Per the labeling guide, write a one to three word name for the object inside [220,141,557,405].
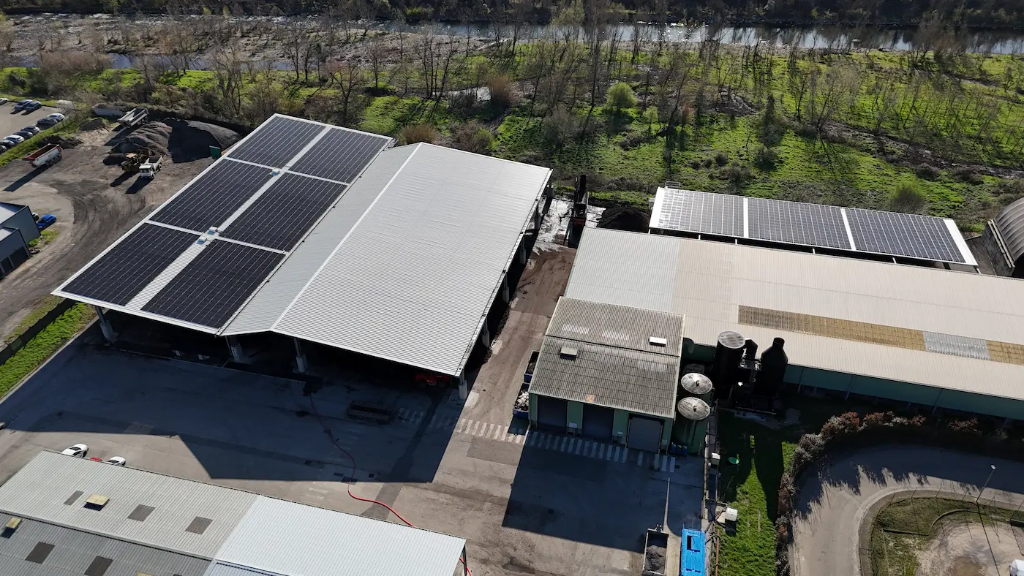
building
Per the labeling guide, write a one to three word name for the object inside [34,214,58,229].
car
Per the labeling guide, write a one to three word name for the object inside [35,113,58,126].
vehicle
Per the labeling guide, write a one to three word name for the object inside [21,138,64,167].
trailer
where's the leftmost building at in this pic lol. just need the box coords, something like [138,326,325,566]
[0,199,39,277]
